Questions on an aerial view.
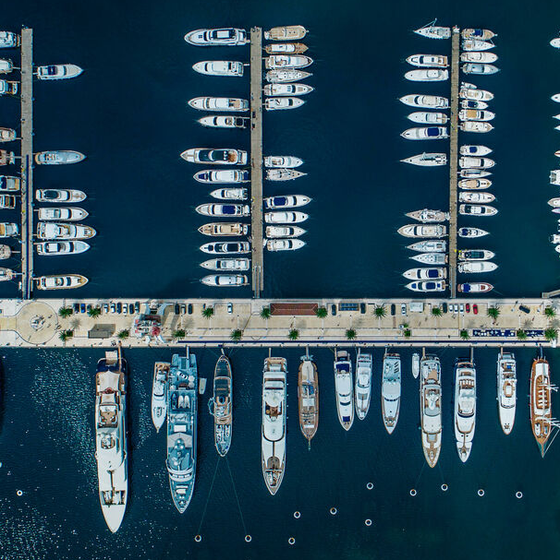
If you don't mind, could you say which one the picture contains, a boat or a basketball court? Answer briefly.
boat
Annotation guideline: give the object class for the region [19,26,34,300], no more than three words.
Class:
pier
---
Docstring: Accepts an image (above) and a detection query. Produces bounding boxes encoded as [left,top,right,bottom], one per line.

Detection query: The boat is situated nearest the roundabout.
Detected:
[29,273,88,290]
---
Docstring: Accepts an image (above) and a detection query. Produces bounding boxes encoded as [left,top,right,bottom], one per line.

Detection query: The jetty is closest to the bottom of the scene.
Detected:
[0,298,560,347]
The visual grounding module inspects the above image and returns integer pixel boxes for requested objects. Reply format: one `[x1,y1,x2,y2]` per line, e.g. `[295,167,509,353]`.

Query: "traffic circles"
[15,301,58,343]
